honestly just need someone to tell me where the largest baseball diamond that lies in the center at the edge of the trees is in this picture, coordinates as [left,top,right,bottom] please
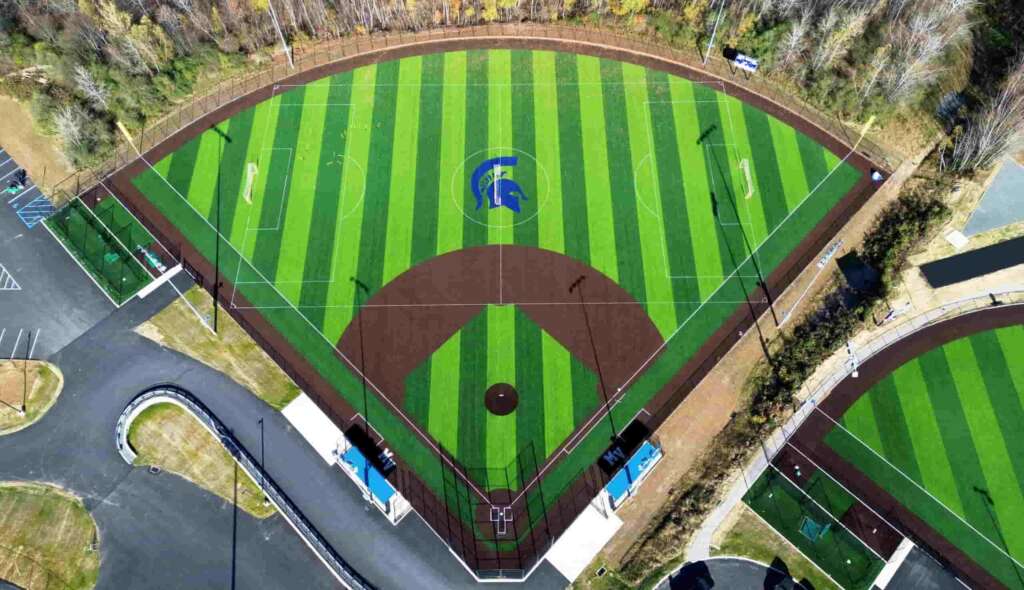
[105,37,889,579]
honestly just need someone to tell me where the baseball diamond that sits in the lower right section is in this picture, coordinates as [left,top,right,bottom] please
[789,305,1024,590]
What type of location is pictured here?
sports ground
